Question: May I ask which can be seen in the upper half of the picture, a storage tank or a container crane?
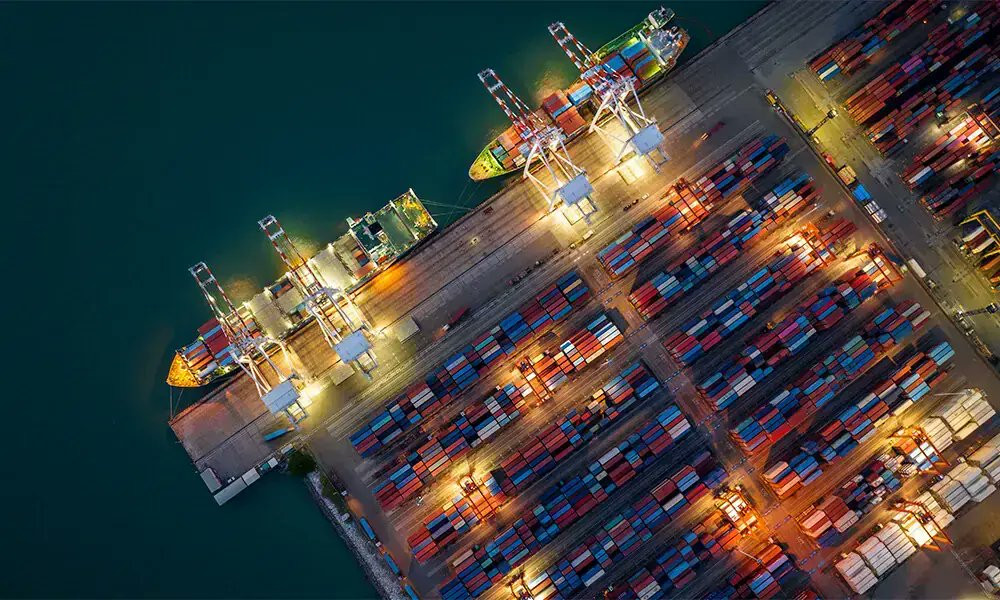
container crane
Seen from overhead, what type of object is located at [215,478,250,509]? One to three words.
shed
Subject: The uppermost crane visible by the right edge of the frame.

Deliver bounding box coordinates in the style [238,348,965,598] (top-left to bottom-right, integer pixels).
[939,99,1000,159]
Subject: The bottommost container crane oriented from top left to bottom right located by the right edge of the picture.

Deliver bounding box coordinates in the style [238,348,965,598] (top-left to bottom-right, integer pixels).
[887,495,959,556]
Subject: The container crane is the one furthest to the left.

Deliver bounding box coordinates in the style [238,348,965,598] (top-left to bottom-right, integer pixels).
[190,260,318,426]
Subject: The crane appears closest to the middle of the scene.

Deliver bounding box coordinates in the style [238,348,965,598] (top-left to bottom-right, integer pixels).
[511,354,558,405]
